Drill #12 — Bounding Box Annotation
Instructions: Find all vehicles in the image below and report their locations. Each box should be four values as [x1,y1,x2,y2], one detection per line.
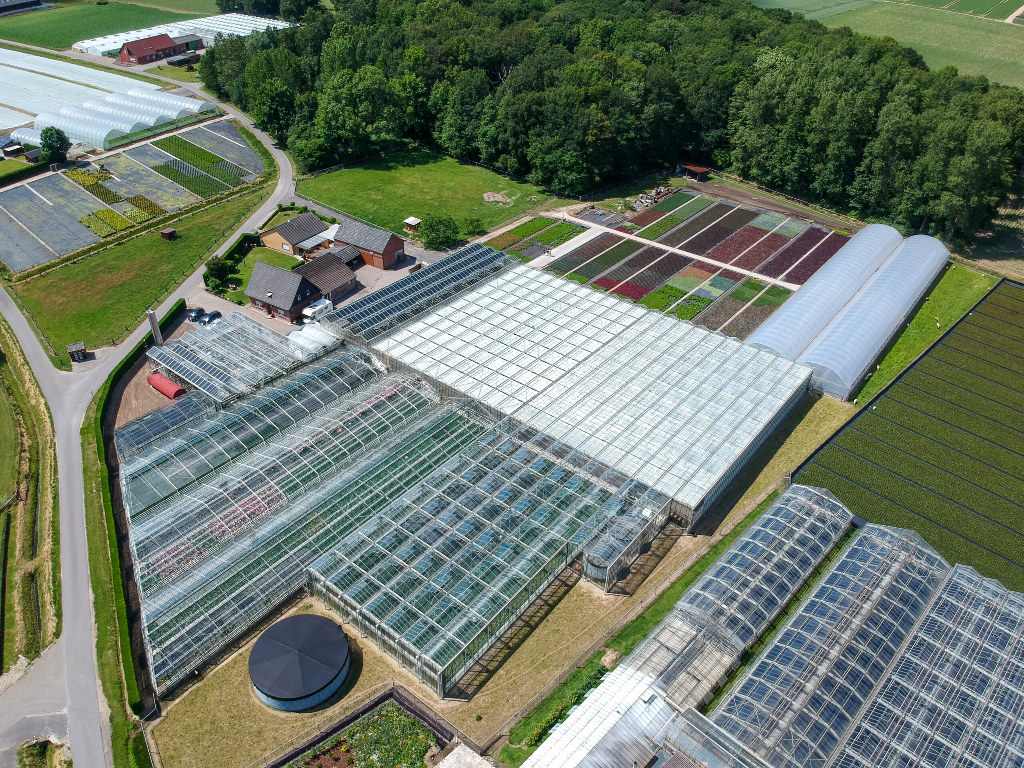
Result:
[187,307,206,321]
[200,310,219,323]
[305,295,335,320]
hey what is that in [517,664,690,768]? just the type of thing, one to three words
greenhouse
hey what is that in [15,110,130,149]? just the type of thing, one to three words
greenhouse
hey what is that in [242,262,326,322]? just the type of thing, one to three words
house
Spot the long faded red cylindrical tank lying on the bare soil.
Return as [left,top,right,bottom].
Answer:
[141,359,182,396]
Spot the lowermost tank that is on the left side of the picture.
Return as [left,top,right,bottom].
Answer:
[248,614,356,712]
